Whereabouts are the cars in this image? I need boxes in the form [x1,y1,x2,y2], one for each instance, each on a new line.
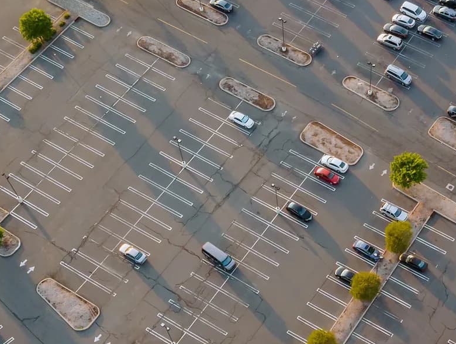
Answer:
[440,0,456,11]
[319,154,349,175]
[378,200,409,223]
[432,5,456,22]
[415,24,443,41]
[284,200,314,222]
[208,0,233,13]
[398,1,426,21]
[227,111,255,130]
[383,23,410,39]
[118,243,149,265]
[330,265,354,285]
[383,64,413,84]
[398,251,430,274]
[390,13,417,30]
[312,165,342,186]
[377,33,403,50]
[352,239,383,262]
